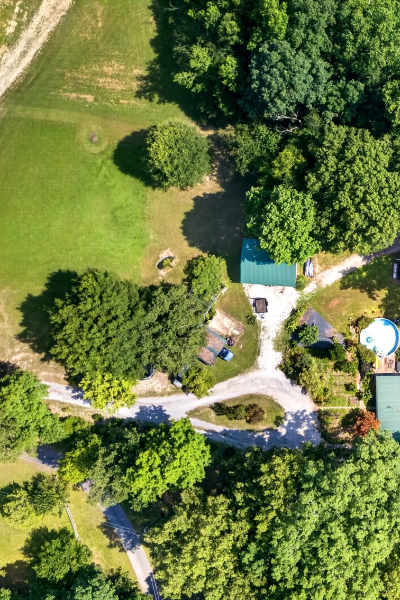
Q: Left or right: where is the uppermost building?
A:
right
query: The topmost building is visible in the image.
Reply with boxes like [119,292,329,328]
[239,236,298,287]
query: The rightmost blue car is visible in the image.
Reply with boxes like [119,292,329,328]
[216,347,231,362]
